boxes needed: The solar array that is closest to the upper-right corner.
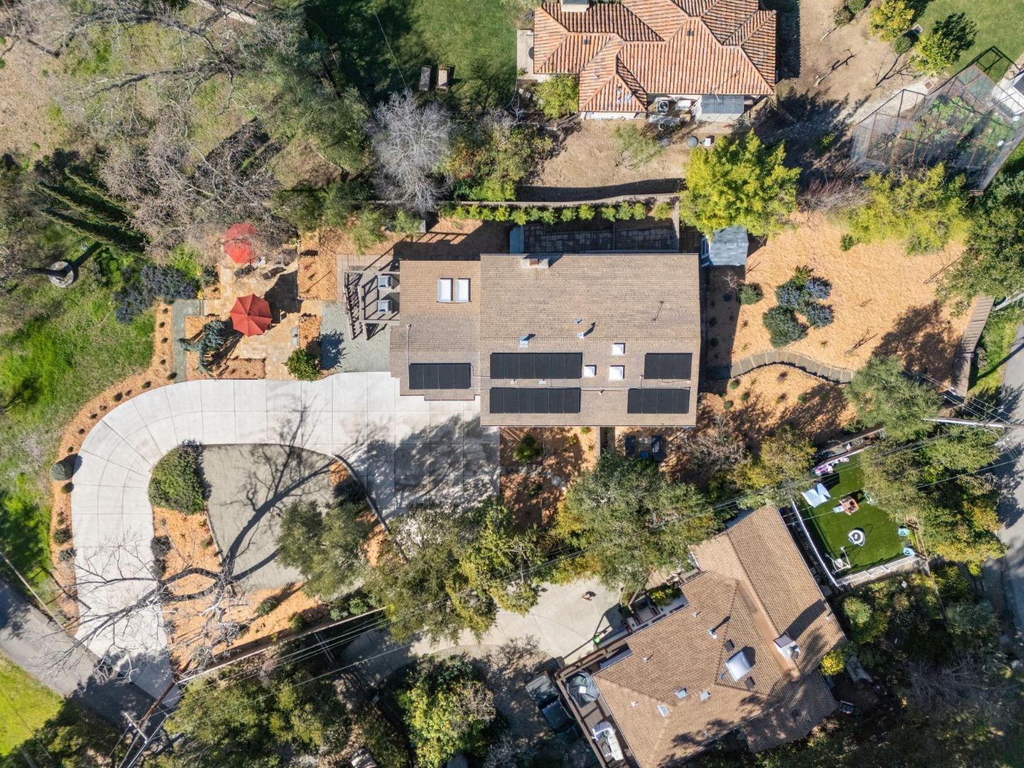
[645,353,692,380]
